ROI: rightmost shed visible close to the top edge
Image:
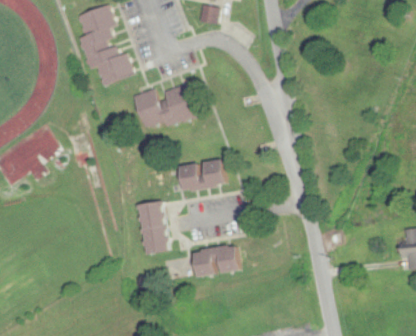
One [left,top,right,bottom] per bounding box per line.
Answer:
[202,4,222,24]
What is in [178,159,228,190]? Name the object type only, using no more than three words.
building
